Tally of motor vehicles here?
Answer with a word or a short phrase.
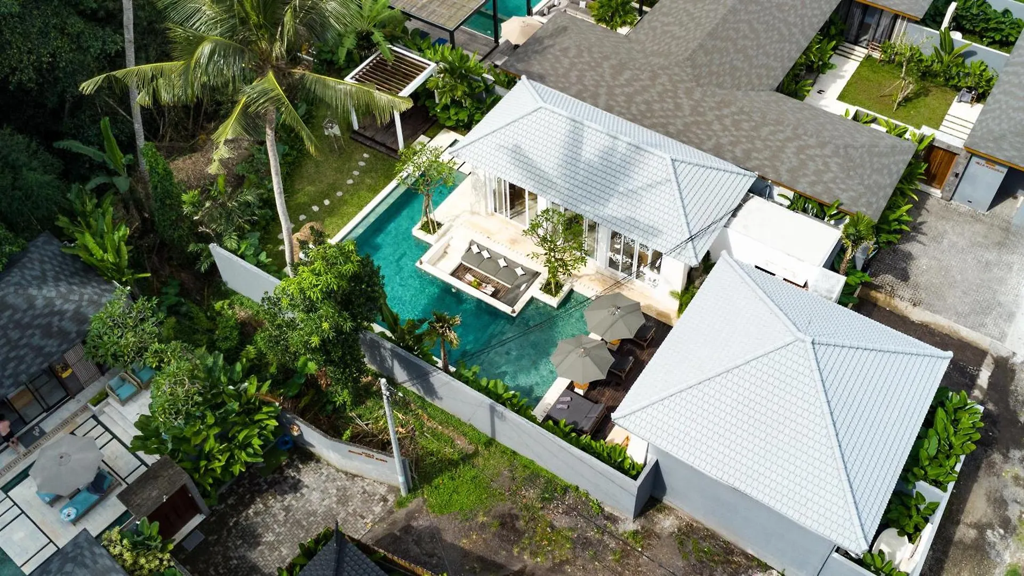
0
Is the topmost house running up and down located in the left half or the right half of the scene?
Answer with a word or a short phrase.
right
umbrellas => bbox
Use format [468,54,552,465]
[501,19,540,47]
[549,331,614,387]
[26,431,107,498]
[581,290,647,343]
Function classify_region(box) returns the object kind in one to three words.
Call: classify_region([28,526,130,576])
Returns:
house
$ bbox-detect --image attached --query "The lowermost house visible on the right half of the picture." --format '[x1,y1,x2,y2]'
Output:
[608,249,960,576]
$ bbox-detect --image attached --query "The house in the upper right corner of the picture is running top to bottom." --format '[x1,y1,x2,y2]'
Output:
[963,30,1024,177]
